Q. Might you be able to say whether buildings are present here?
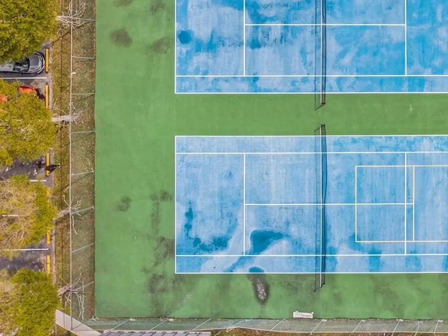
No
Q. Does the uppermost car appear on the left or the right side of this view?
left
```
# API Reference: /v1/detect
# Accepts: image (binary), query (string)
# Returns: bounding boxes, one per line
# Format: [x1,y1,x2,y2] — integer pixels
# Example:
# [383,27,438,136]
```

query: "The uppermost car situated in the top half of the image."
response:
[0,52,41,79]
